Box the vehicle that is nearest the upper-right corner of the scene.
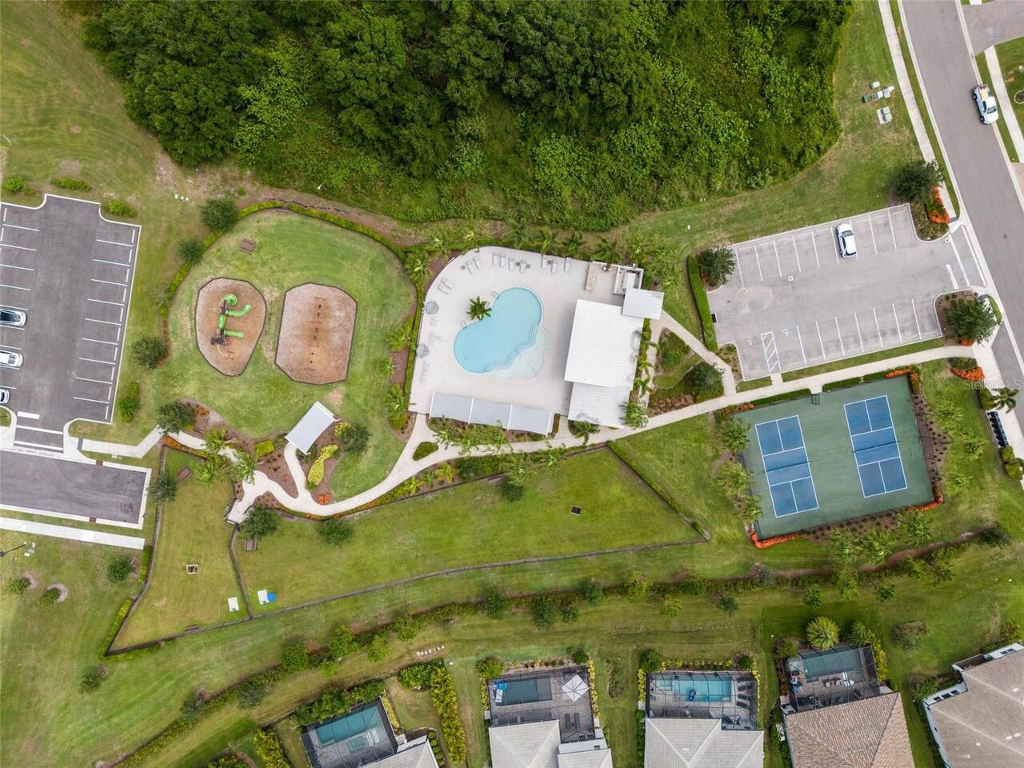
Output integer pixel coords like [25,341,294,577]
[975,80,1002,123]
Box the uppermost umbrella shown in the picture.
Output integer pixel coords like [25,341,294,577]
[425,300,439,314]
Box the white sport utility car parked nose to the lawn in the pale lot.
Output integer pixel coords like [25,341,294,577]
[835,222,859,258]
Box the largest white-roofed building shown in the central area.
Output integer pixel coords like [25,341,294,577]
[564,286,664,428]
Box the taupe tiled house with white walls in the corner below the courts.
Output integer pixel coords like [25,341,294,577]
[920,644,1024,768]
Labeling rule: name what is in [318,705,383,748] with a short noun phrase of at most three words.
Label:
swimming pool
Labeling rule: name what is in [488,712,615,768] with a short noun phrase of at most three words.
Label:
house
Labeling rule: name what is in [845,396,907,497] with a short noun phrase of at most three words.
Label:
sports court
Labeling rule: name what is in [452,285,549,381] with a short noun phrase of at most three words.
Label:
swimming pool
